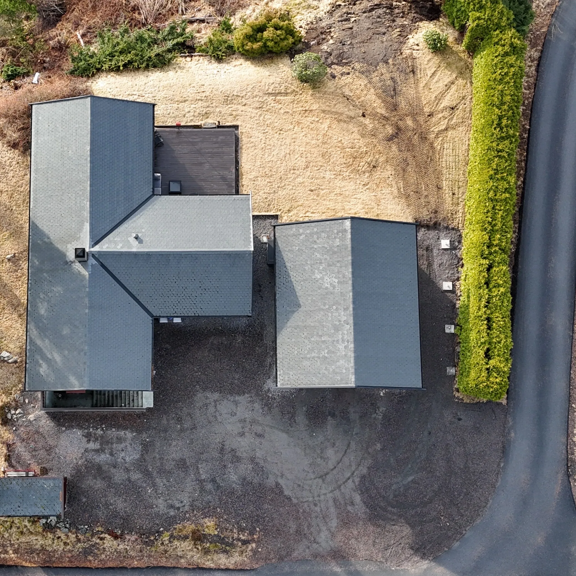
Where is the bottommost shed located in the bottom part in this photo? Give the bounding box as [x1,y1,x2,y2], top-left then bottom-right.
[0,475,69,522]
